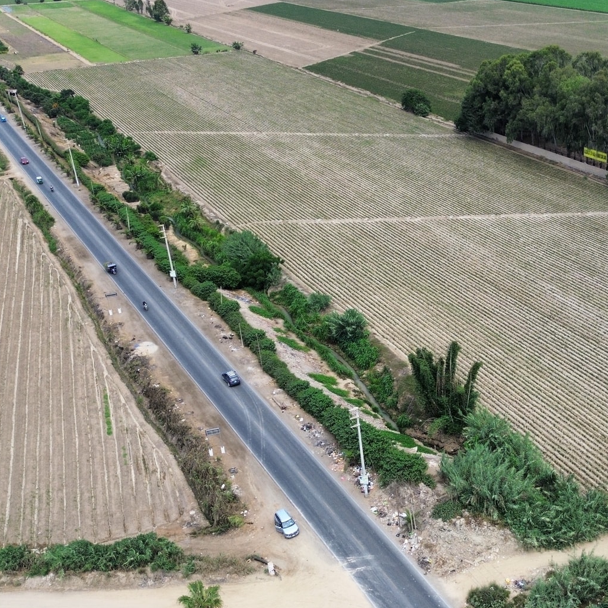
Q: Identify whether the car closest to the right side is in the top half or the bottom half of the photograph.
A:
bottom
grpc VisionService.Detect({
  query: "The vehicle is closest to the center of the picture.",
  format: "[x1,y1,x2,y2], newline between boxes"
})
[223,371,242,386]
